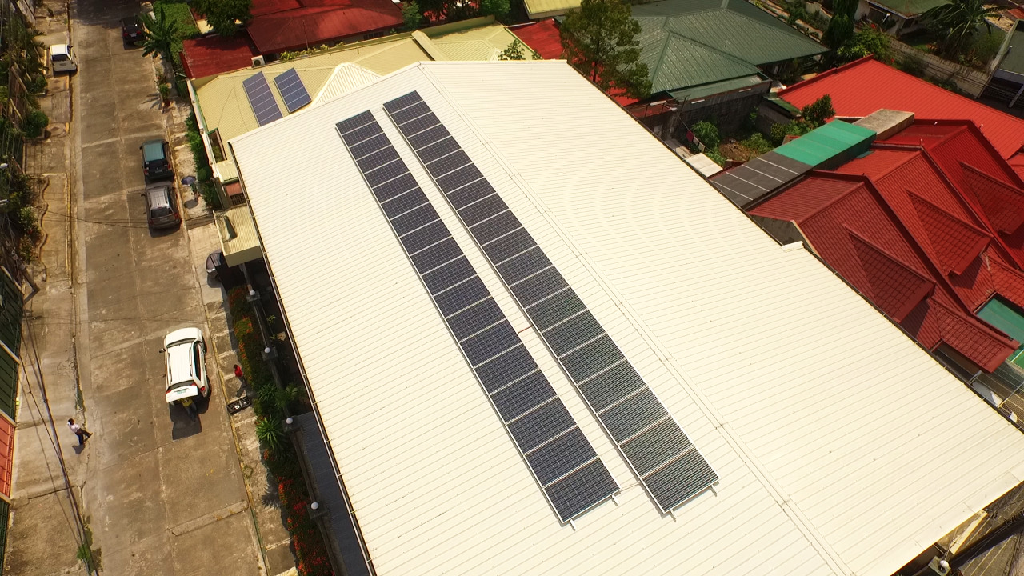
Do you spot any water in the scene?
No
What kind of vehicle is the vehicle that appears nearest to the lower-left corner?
car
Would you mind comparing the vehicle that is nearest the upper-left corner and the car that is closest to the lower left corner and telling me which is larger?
the car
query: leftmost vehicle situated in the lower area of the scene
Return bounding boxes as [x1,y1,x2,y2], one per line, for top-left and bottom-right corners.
[162,331,216,417]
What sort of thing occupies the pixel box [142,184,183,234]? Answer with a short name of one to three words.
car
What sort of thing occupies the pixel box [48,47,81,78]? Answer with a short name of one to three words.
vehicle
